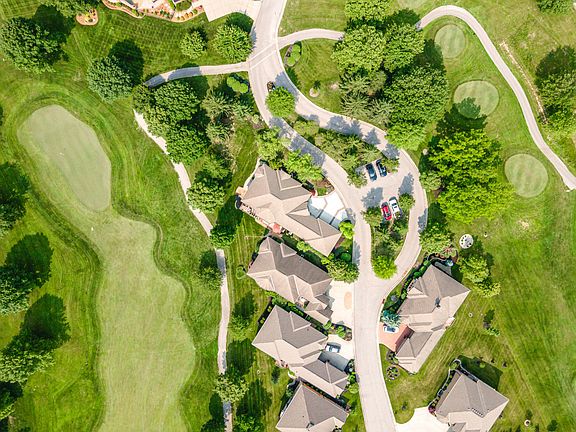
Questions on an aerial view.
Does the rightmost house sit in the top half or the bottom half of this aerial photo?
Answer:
bottom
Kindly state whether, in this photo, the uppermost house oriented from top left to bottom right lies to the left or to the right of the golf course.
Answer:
right of it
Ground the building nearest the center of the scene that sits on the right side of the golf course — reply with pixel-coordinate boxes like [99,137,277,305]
[241,164,341,256]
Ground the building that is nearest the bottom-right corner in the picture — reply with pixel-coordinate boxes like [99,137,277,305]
[437,371,509,432]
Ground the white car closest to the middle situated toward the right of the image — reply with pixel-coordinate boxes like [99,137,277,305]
[389,198,401,217]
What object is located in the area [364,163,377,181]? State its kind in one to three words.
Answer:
vehicle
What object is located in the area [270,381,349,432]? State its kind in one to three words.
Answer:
house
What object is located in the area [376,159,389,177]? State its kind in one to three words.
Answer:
vehicle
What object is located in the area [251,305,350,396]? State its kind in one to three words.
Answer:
house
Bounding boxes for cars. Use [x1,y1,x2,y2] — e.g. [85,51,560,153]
[376,159,389,177]
[364,163,377,181]
[325,343,341,353]
[381,203,392,220]
[389,198,401,217]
